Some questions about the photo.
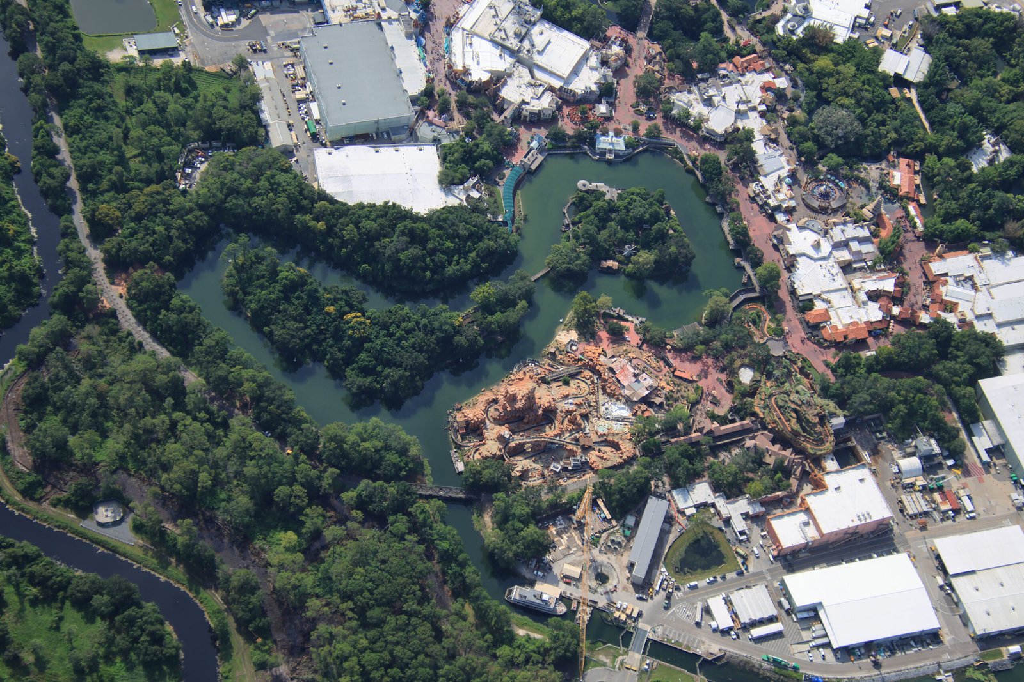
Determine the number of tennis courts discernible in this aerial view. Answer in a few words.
0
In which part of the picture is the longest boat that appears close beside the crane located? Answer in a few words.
bottom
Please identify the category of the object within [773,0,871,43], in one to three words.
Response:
building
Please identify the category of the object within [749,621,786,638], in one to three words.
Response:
vehicle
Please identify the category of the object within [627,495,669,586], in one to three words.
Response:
shed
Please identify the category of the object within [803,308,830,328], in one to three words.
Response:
house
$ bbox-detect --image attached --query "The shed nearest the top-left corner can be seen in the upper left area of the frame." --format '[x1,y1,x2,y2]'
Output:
[123,31,178,61]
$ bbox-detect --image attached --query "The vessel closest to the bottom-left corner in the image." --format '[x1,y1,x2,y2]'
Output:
[448,449,463,473]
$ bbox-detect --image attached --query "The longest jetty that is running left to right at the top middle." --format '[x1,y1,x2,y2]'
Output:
[547,141,676,163]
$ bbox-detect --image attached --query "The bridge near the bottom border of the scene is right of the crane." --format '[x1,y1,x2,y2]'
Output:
[626,615,653,666]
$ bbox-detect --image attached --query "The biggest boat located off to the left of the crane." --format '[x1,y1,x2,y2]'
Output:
[501,584,567,617]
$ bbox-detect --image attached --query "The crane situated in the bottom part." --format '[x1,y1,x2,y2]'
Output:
[572,474,596,679]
